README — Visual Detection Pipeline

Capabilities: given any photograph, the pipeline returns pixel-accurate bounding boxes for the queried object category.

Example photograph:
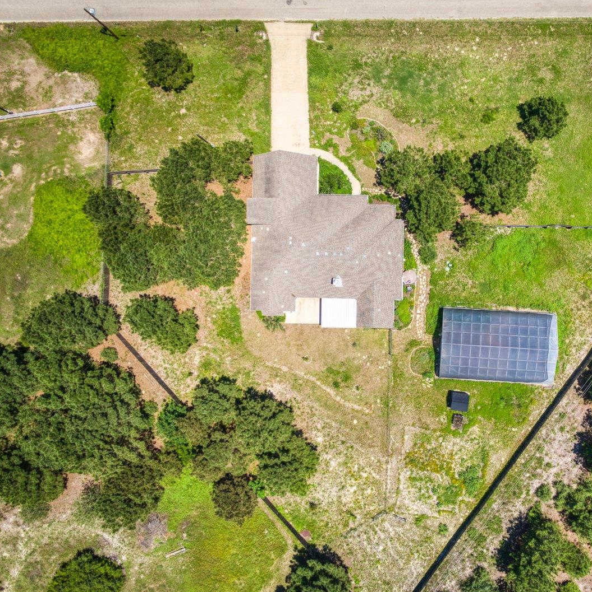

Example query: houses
[246,148,404,328]
[432,306,557,386]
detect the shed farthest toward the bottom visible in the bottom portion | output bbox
[450,391,469,412]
